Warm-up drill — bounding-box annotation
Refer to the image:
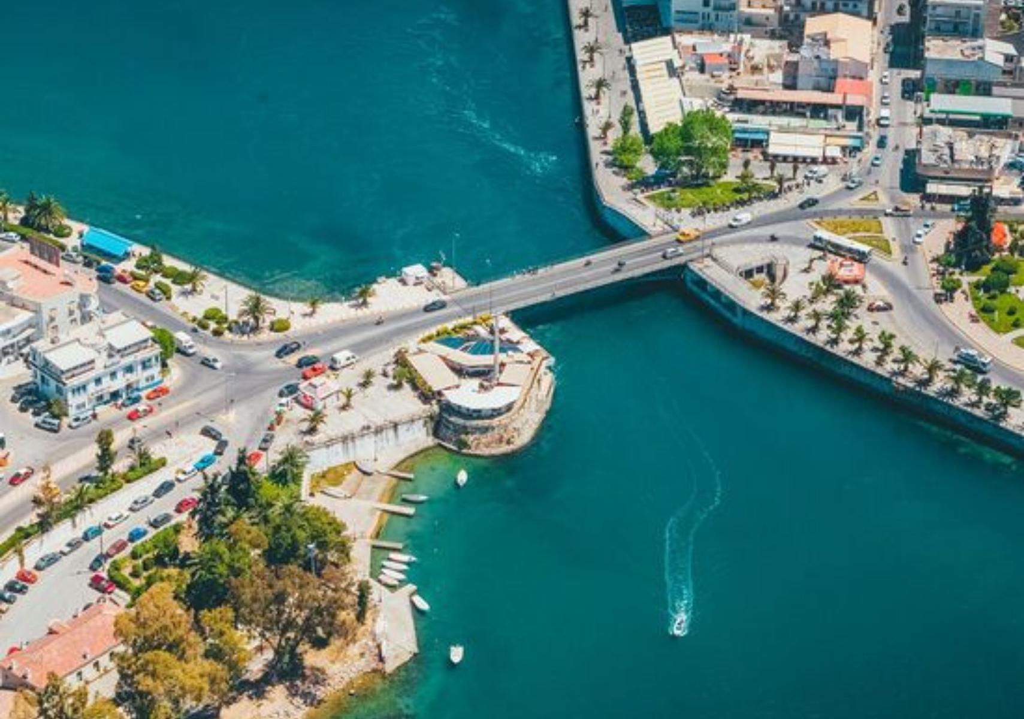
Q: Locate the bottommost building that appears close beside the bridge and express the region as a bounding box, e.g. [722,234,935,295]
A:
[407,316,545,420]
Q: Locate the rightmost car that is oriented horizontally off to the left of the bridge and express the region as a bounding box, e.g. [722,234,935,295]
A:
[423,301,447,313]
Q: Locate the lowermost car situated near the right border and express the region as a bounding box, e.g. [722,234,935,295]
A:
[957,348,989,370]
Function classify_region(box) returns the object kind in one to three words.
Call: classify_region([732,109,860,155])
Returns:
building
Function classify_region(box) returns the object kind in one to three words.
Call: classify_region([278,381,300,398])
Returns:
car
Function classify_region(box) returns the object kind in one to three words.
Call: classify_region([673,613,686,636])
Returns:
boat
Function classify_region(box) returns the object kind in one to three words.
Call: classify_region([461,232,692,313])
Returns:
bridge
